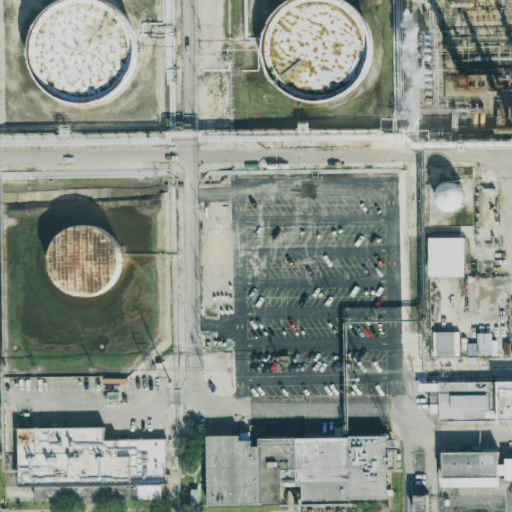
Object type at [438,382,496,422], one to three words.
building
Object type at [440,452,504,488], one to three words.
building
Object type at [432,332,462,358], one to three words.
shed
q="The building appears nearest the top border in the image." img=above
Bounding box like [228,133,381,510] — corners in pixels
[428,238,466,278]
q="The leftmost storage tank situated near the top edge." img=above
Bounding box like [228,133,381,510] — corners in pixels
[26,0,138,107]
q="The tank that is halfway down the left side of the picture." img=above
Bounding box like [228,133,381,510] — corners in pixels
[47,225,124,302]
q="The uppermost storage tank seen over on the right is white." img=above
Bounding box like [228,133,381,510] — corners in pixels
[258,0,372,106]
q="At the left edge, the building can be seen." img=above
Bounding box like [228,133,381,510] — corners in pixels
[17,429,168,489]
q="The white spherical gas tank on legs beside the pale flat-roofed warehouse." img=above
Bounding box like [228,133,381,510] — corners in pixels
[432,182,468,214]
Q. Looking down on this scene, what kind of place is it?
industrial area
